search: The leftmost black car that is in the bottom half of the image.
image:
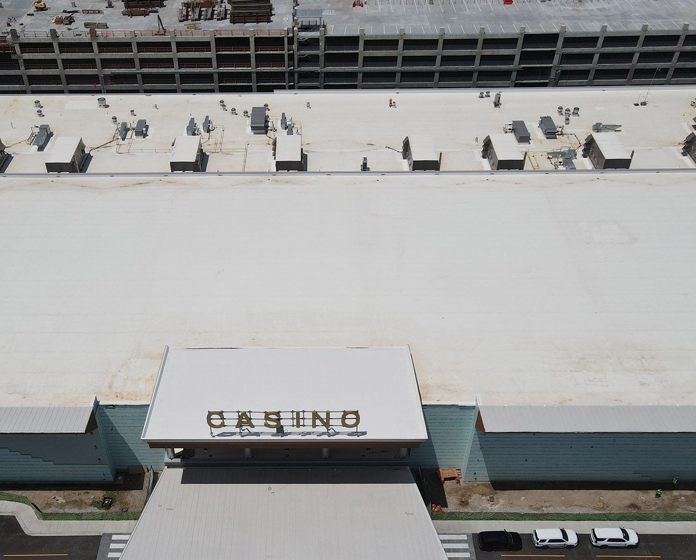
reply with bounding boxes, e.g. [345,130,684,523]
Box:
[476,530,526,554]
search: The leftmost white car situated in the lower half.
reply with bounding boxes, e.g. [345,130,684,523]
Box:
[531,528,582,552]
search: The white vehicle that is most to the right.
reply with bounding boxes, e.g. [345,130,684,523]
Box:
[590,527,641,552]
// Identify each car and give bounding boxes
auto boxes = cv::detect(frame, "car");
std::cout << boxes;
[590,527,641,552]
[531,528,582,552]
[476,530,526,554]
